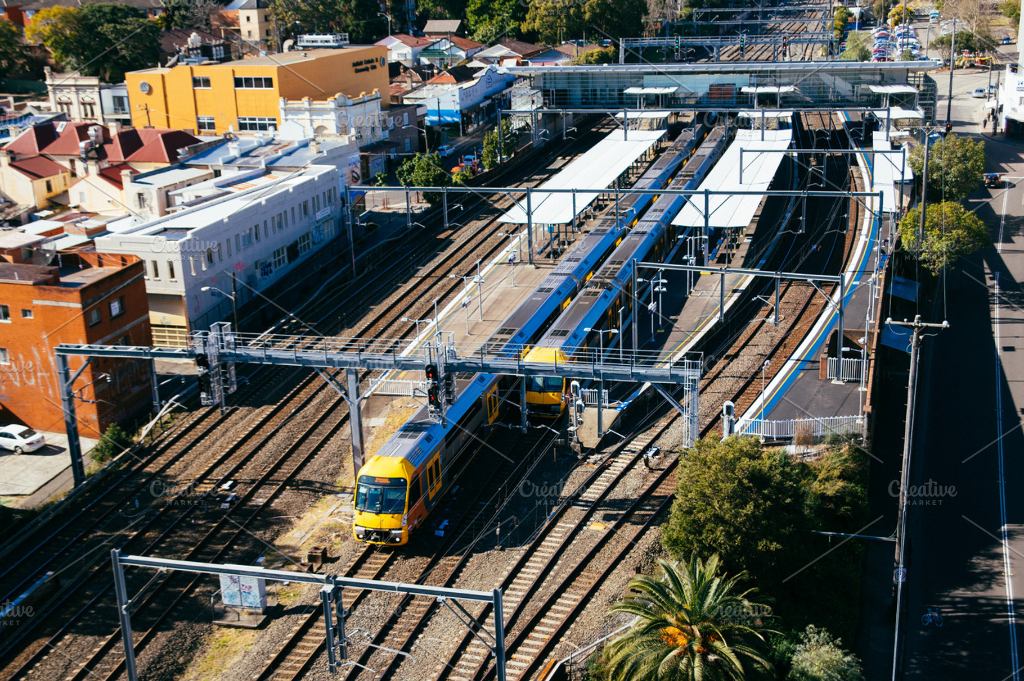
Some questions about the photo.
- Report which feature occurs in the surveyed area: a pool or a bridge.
bridge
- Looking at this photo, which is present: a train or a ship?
train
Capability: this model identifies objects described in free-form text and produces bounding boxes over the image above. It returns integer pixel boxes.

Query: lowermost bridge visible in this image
[508,58,941,133]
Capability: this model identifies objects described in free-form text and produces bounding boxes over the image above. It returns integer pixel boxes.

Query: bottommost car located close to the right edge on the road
[983,174,1001,188]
